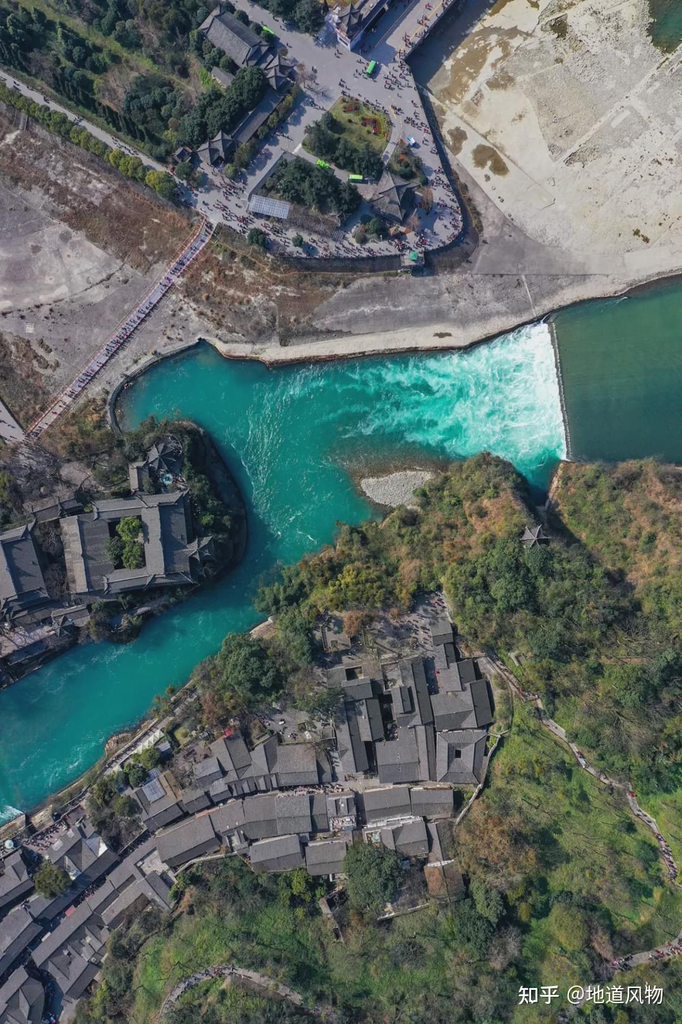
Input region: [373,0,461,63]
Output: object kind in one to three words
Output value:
bridge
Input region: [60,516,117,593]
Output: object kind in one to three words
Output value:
building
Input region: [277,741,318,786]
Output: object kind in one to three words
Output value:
house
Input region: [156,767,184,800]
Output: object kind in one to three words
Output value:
house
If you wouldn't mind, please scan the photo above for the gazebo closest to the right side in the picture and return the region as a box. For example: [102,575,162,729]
[522,522,551,549]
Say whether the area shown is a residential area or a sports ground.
residential area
